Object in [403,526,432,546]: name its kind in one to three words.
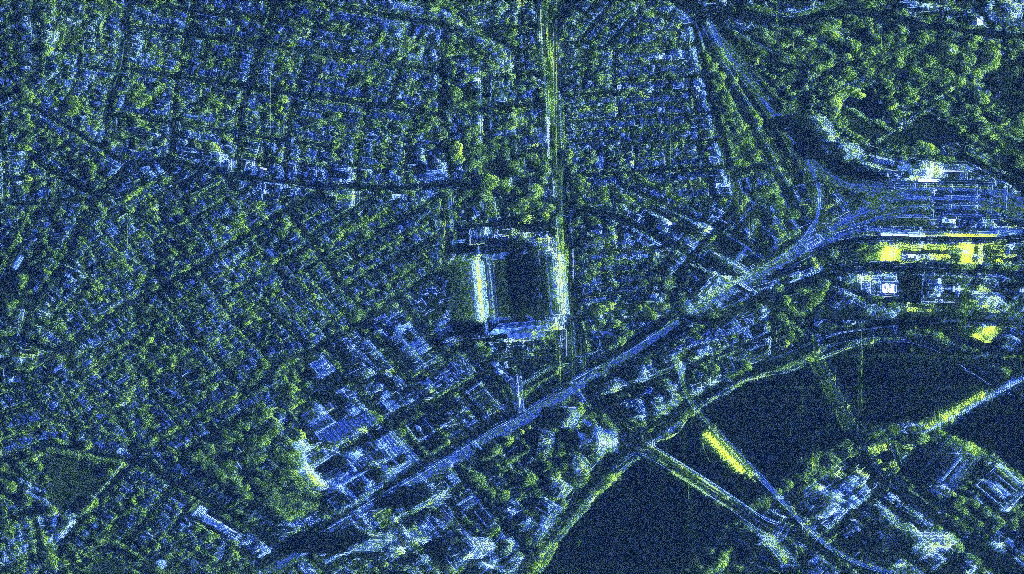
building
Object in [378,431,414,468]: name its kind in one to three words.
building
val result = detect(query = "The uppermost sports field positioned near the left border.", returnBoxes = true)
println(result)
[44,454,119,512]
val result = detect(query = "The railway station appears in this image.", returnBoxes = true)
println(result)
[902,185,1024,216]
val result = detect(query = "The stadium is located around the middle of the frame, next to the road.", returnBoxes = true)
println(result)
[450,237,571,342]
